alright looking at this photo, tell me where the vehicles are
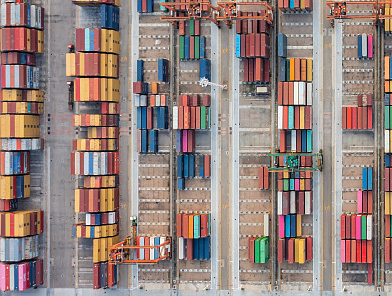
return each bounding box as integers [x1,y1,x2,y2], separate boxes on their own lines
[65,81,73,109]
[66,45,74,55]
[130,217,137,244]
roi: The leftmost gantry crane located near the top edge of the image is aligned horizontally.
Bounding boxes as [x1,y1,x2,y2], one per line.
[159,0,220,28]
